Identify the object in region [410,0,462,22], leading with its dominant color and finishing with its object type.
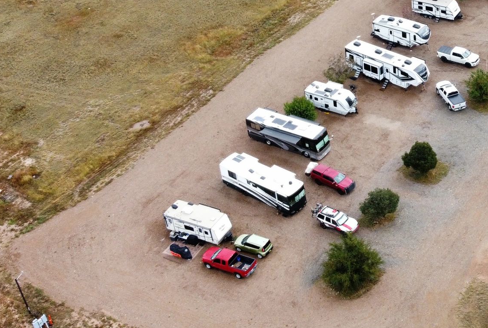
white trailer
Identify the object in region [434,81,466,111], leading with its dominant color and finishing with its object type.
white truck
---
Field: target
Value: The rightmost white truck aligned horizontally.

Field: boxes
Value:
[436,46,480,68]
